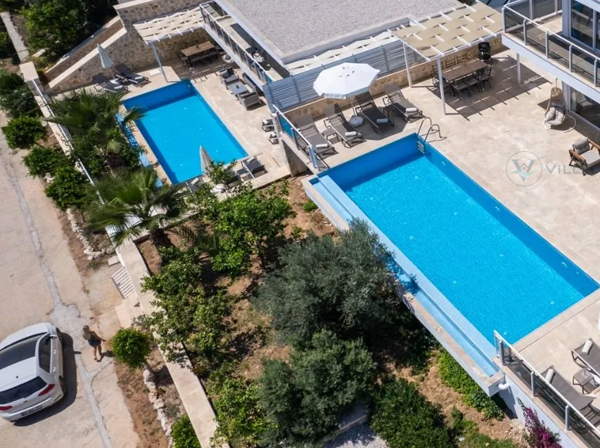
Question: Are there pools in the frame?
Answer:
Yes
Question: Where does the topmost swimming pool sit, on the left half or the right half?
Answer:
left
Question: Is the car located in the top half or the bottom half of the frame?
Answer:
bottom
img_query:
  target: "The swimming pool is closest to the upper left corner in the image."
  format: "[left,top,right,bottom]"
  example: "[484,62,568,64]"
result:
[114,80,252,206]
